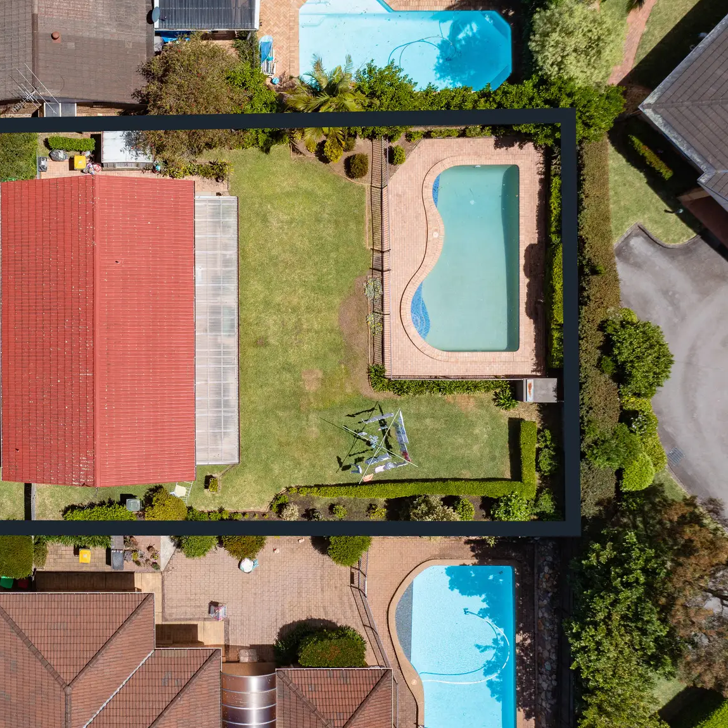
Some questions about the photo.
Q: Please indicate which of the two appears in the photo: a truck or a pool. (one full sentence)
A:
This aerial view contains a pool.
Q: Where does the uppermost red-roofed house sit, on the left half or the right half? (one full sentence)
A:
The uppermost red-roofed house appears in the left half of the scene.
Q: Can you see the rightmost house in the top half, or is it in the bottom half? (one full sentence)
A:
Seen from above, the rightmost house lies in the top half of the view.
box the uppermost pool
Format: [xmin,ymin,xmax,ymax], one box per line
[289,0,521,100]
